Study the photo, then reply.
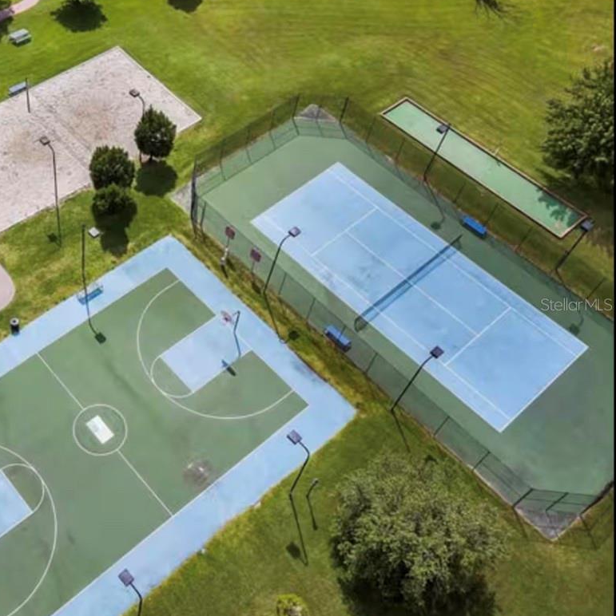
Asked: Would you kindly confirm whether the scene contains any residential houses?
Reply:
No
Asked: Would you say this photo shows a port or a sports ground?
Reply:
sports ground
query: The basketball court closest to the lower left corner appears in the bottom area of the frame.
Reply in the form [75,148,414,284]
[0,235,363,616]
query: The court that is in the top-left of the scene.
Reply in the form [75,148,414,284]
[0,45,207,232]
